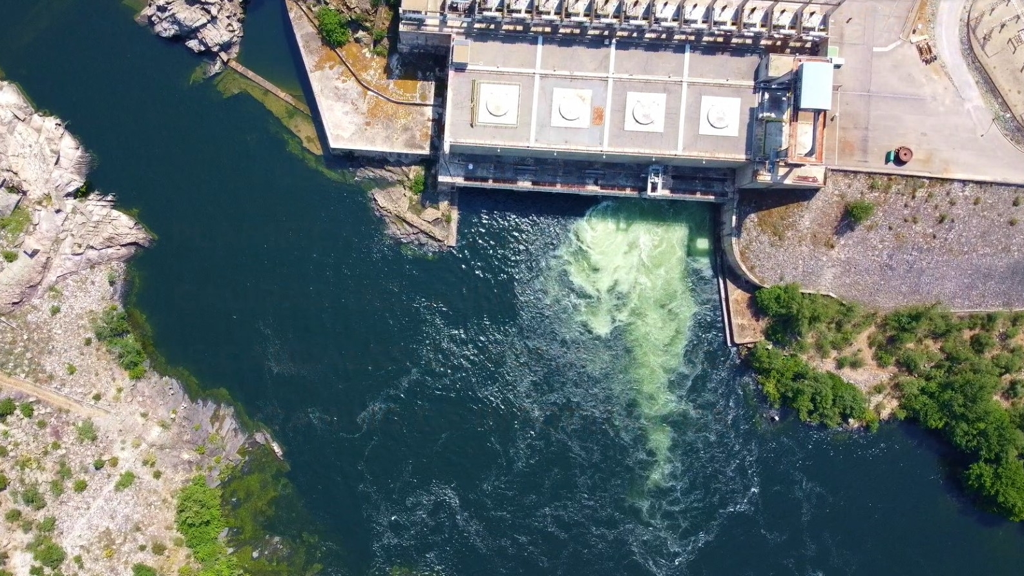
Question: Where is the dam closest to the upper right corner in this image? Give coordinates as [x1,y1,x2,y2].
[399,0,832,61]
